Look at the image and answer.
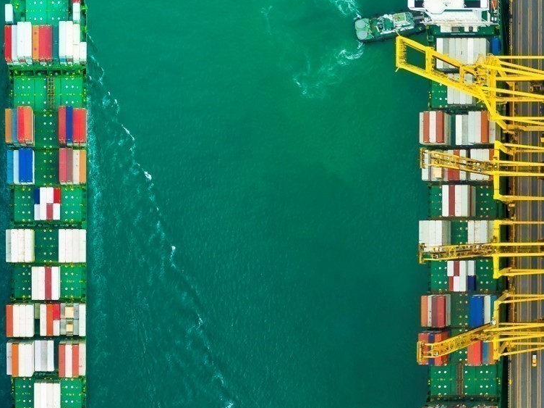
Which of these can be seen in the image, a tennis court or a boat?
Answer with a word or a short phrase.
boat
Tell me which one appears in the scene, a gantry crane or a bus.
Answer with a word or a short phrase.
gantry crane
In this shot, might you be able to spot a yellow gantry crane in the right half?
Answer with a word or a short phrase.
Yes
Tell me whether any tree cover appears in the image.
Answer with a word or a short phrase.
No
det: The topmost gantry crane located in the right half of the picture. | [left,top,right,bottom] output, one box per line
[397,32,544,134]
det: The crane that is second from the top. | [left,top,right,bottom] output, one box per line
[423,133,544,208]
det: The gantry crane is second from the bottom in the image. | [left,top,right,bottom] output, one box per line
[420,213,544,285]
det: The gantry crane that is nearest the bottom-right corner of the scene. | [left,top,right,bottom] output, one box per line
[420,292,544,364]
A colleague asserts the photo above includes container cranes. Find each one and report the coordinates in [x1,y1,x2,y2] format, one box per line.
[420,213,544,285]
[397,32,544,134]
[420,292,544,364]
[423,133,544,208]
